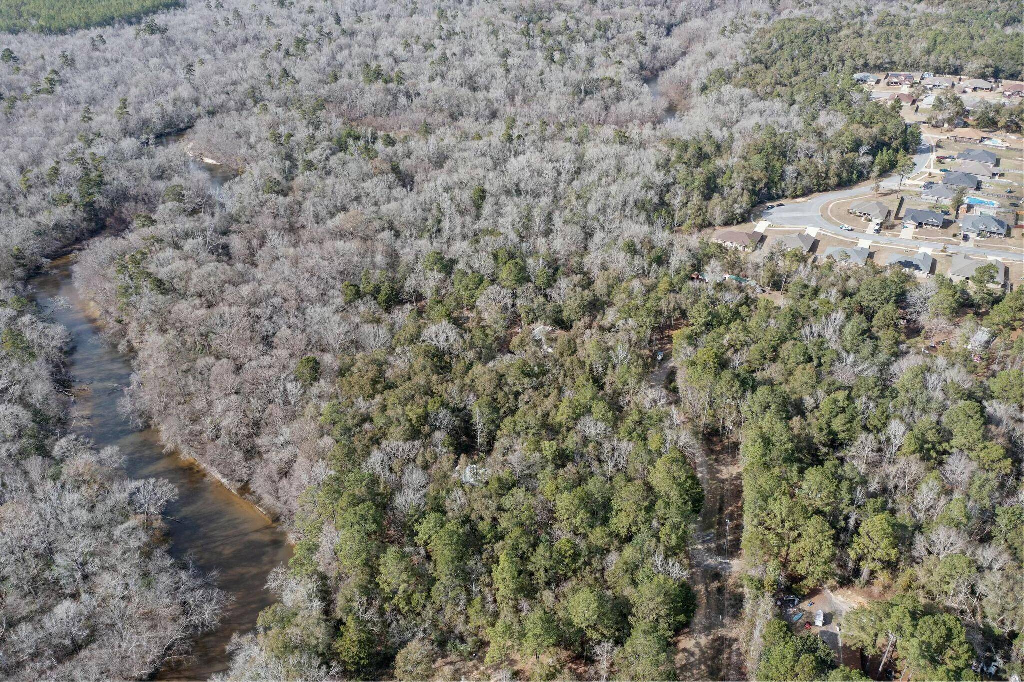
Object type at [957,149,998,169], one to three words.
house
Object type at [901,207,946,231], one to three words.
house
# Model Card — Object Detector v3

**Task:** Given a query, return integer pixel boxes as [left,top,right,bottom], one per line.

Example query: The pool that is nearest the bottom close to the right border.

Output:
[962,195,1001,207]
